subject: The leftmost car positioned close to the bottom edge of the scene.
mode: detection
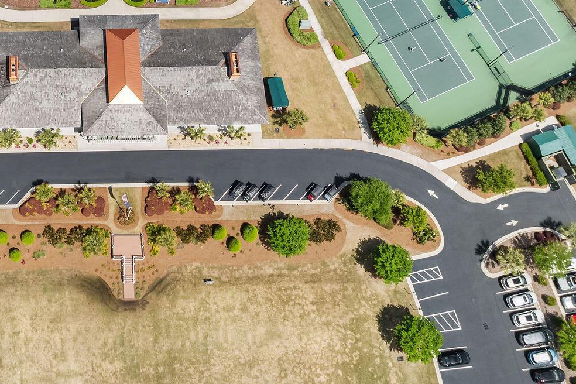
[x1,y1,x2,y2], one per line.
[438,350,472,368]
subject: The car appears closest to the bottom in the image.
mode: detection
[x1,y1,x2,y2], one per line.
[533,366,567,383]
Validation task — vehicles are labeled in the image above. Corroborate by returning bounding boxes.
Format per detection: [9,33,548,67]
[229,180,247,199]
[500,273,533,289]
[520,328,554,345]
[549,258,576,275]
[512,309,546,327]
[306,183,324,203]
[259,183,277,201]
[506,292,539,309]
[321,183,341,203]
[438,350,472,368]
[527,348,561,366]
[241,183,260,201]
[562,294,576,309]
[555,274,576,290]
[533,366,567,383]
